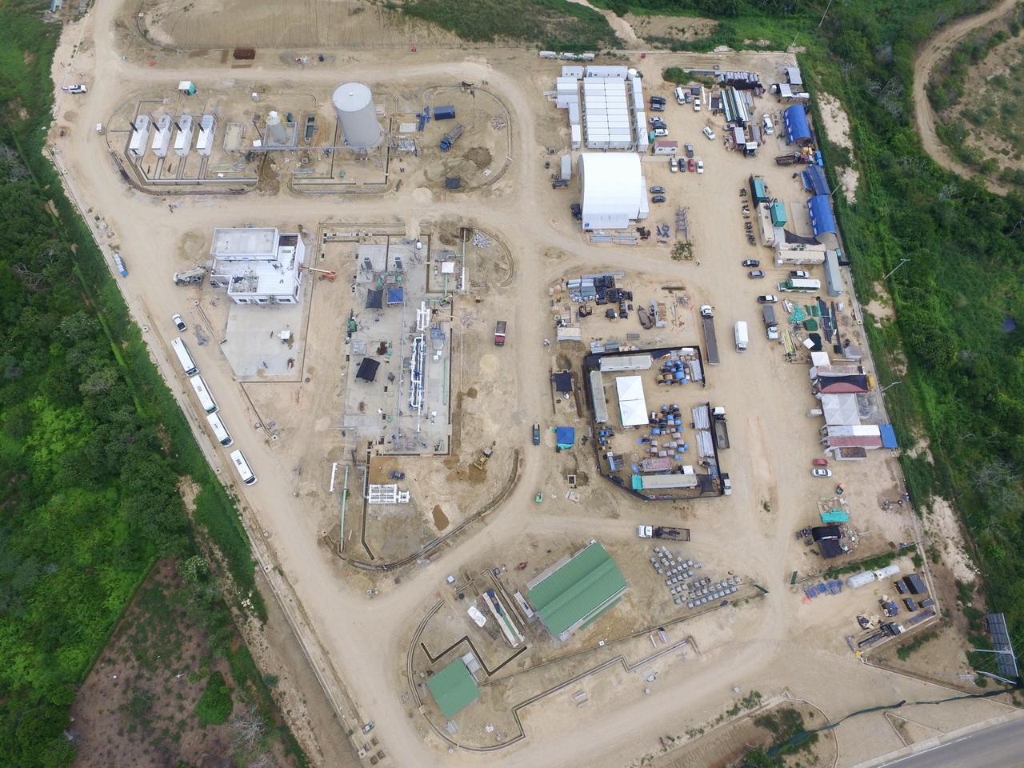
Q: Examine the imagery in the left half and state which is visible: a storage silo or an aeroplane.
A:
storage silo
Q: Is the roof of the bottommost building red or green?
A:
green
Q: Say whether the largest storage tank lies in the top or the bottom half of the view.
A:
top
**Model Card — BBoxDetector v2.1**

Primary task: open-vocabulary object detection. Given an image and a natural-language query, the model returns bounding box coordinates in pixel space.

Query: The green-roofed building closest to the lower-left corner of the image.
[427,658,482,718]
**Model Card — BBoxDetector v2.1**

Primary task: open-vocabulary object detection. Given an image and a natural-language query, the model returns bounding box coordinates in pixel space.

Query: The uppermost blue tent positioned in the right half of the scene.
[784,104,815,145]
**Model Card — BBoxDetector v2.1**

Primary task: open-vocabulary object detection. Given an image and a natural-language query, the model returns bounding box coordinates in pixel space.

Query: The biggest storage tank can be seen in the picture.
[331,82,385,150]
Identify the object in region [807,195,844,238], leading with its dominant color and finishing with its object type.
blue tent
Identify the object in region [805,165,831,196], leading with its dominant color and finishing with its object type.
blue tent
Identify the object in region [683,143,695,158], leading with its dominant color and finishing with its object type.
gray vehicle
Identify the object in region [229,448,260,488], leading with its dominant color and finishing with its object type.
white bus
